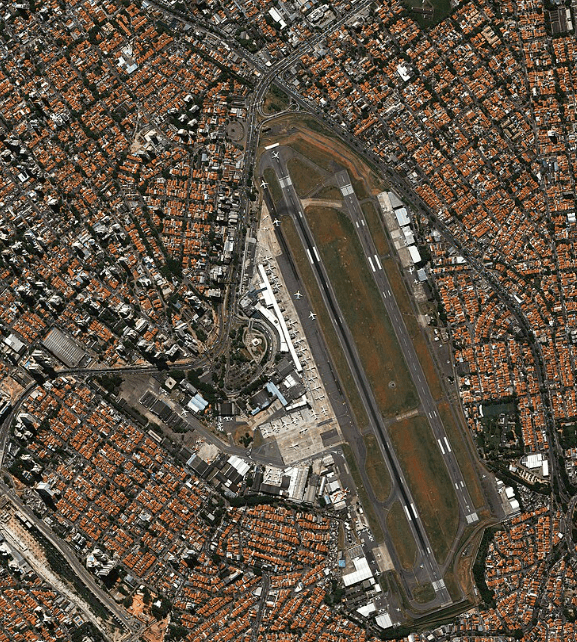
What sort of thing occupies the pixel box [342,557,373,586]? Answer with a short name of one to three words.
hangar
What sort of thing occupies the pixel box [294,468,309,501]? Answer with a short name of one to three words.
hangar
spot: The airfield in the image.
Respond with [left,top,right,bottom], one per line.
[163,112,520,634]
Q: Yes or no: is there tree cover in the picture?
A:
Yes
